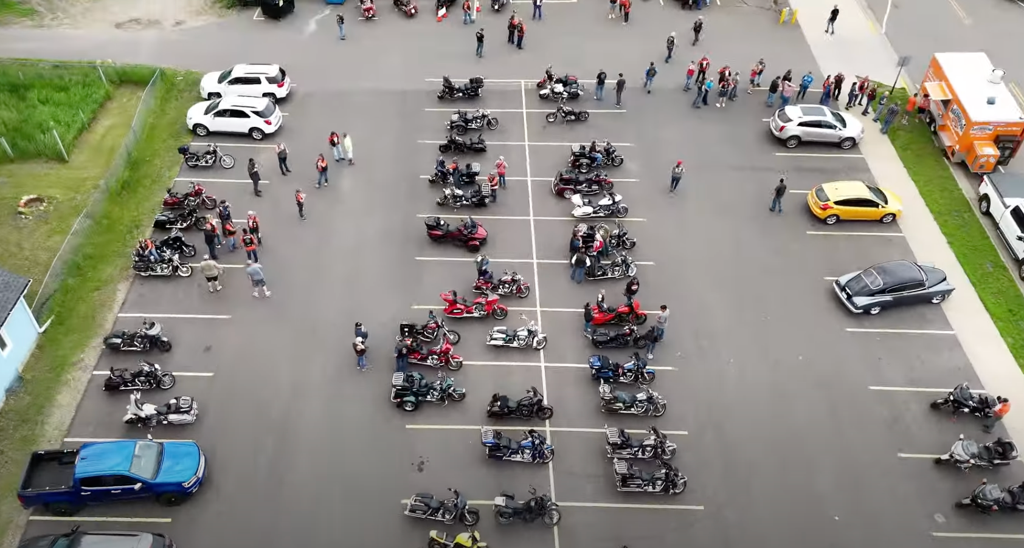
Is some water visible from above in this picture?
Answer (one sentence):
No, water can't be seen anywhere here.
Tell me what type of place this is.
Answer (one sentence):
It's a parking lot.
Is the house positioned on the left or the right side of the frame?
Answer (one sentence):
The house sits on the left side.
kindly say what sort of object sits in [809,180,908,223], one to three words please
car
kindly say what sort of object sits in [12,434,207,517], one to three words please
truck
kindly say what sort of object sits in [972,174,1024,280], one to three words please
truck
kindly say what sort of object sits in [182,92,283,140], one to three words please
car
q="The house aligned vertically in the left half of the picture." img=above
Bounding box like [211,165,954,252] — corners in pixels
[0,272,58,411]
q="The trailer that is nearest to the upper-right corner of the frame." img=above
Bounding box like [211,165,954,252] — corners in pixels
[917,51,1024,174]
